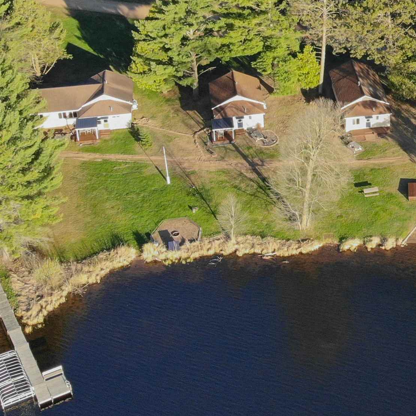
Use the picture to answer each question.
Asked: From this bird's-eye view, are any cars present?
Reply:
No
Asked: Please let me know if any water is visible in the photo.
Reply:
Yes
